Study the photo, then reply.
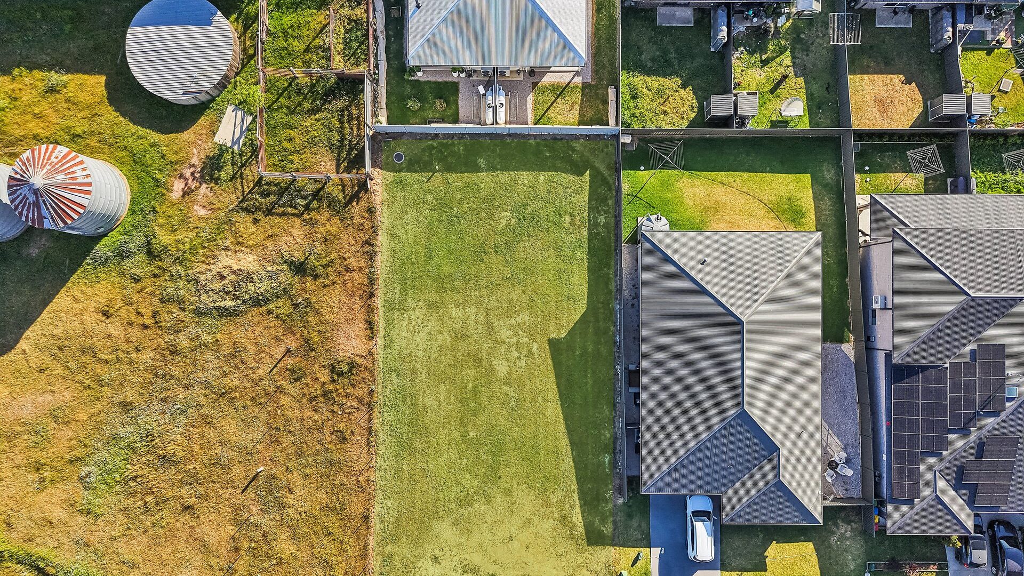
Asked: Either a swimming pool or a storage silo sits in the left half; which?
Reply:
storage silo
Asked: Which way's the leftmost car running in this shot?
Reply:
from top to bottom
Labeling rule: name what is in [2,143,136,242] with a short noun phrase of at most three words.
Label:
silo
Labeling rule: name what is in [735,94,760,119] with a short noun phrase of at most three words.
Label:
shed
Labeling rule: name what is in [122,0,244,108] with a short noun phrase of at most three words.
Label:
water tank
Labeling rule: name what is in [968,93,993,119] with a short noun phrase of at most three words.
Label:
shed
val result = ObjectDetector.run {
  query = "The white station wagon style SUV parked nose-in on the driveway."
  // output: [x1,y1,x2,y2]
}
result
[682,494,715,563]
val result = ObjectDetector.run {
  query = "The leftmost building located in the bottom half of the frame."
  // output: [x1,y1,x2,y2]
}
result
[636,230,823,525]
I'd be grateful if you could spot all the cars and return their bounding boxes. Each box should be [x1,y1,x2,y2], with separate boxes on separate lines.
[989,522,1024,576]
[682,494,715,563]
[962,513,995,575]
